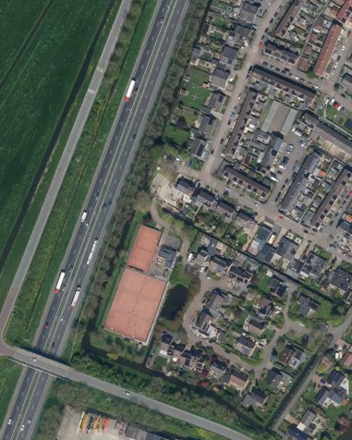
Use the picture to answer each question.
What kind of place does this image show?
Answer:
residential area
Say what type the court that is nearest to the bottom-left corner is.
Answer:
tennis court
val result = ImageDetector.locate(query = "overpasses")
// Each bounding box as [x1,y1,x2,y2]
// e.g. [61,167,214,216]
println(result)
[21,349,88,385]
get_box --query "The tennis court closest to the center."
[126,224,162,273]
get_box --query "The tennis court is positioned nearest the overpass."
[104,269,167,344]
